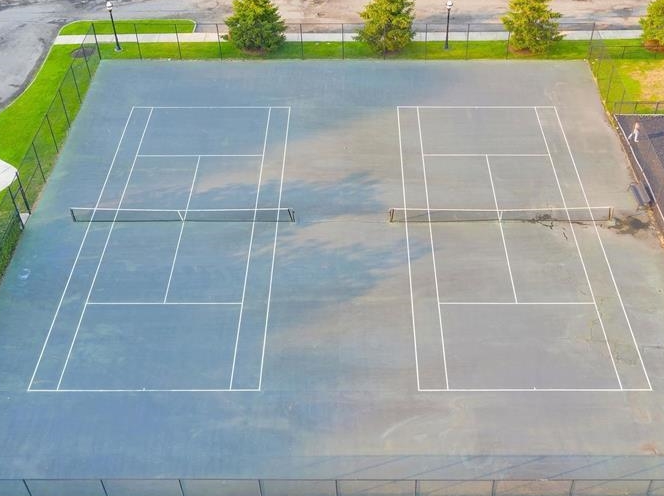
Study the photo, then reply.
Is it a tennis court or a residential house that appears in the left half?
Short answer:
tennis court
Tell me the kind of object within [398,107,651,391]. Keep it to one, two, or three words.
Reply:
tennis court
